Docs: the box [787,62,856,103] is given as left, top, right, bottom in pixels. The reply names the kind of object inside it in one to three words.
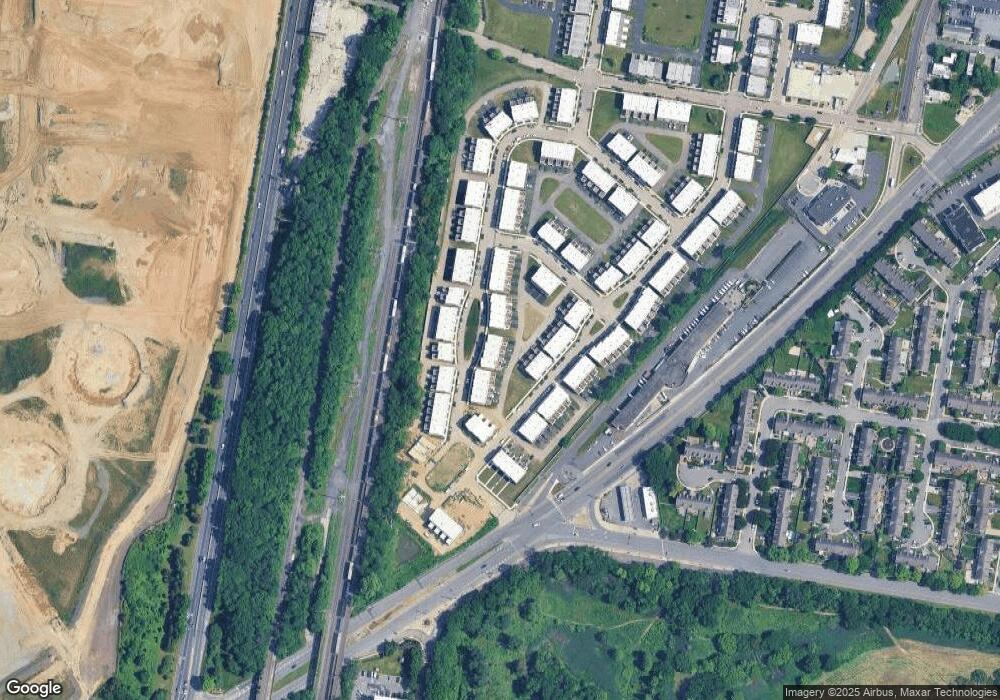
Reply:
building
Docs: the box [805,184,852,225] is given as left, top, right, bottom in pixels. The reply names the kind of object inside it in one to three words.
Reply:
building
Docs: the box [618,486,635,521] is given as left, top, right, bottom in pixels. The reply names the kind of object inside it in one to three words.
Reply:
shed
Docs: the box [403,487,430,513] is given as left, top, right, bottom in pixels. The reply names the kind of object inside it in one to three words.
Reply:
house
